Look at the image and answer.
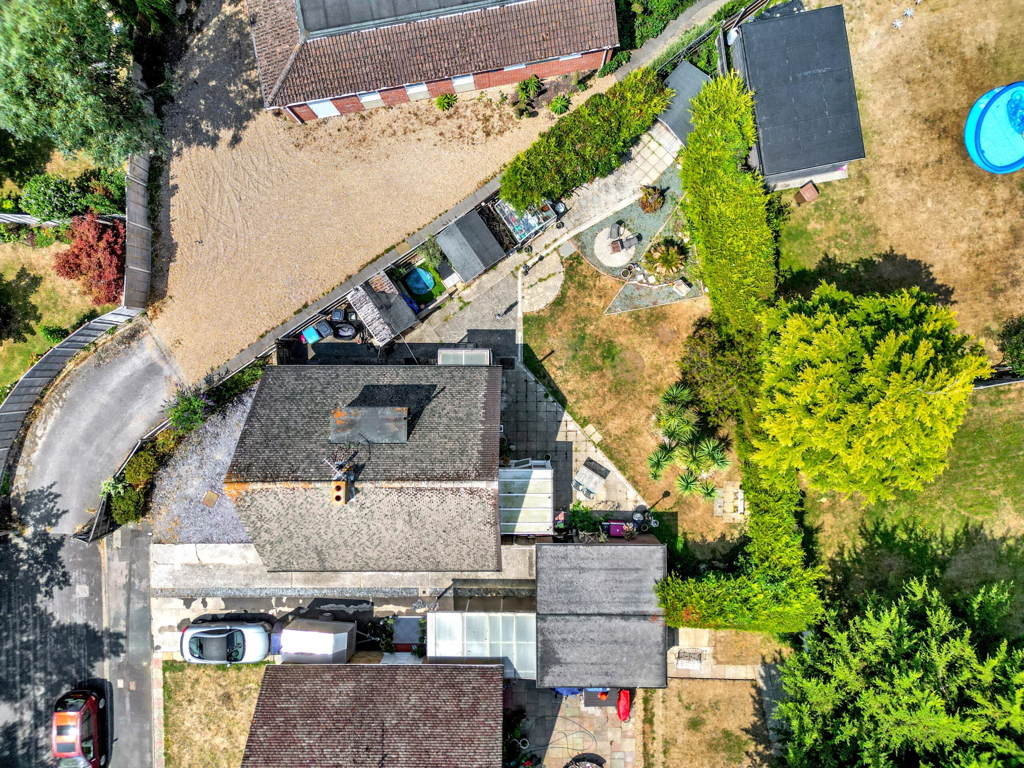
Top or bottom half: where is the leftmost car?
bottom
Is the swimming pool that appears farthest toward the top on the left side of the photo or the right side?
right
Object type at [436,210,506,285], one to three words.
shed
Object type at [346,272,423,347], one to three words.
shed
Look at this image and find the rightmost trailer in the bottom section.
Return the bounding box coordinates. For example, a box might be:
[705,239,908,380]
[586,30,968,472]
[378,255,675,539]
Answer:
[282,609,379,662]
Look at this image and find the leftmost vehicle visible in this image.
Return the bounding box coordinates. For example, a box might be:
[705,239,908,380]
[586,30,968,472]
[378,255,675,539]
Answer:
[182,617,275,671]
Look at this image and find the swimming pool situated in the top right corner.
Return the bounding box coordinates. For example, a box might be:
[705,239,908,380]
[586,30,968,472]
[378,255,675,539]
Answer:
[965,80,1024,173]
